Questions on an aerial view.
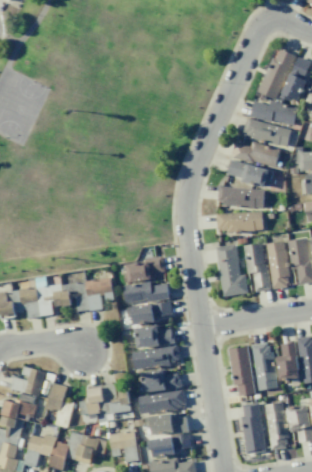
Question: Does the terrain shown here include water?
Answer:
No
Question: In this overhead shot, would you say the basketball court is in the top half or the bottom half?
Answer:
top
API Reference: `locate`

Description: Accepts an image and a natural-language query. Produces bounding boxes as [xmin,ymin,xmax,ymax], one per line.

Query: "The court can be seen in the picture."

[0,67,50,147]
